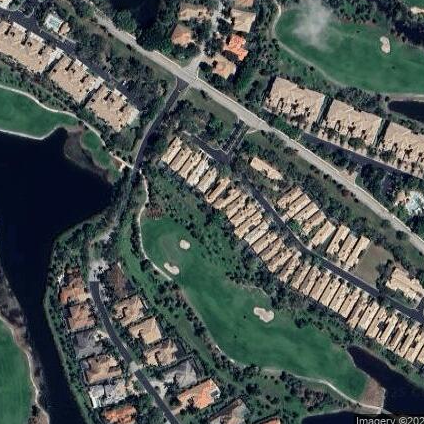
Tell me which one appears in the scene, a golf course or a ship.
golf course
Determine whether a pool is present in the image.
Yes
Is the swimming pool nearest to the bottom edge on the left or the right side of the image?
right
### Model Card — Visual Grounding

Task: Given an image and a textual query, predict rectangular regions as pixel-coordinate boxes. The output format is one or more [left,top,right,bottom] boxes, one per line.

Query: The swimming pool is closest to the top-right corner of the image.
[403,191,424,213]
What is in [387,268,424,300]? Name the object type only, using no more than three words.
building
